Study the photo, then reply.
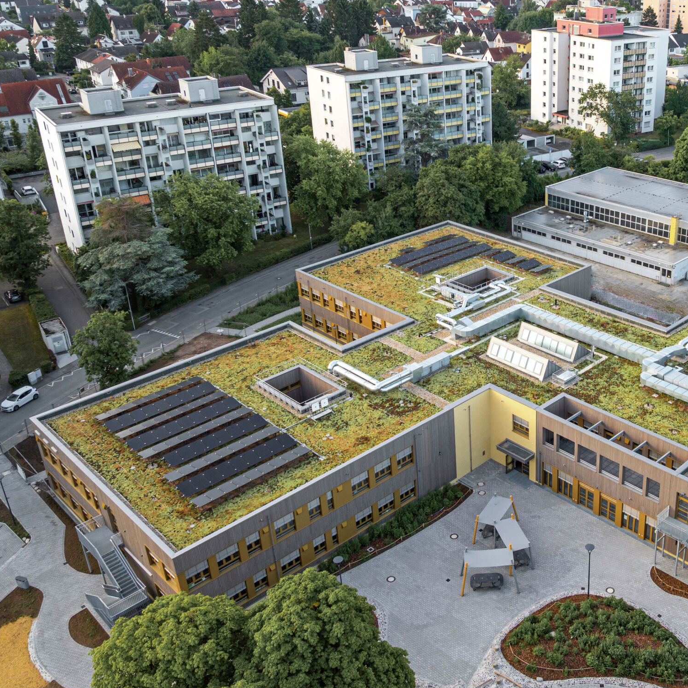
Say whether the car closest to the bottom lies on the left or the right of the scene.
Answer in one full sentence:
You can find the car closest to the bottom on the left side of the picture.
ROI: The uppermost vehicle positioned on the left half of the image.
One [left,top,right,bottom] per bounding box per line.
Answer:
[2,285,21,302]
